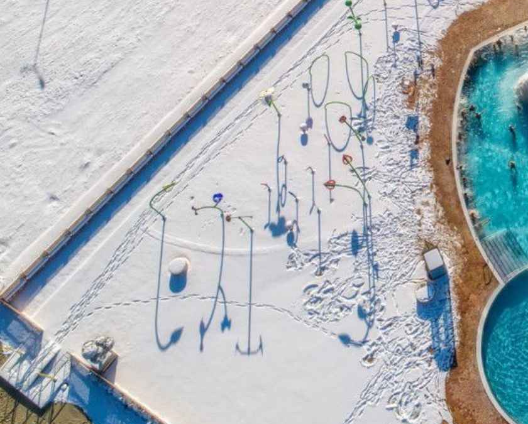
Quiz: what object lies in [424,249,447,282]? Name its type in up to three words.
building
